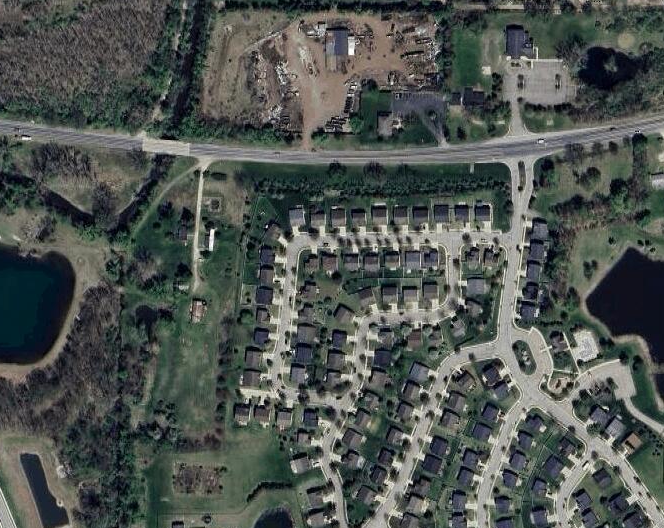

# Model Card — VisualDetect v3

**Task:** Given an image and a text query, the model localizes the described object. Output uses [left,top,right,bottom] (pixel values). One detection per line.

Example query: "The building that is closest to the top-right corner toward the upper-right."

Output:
[506,27,533,61]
